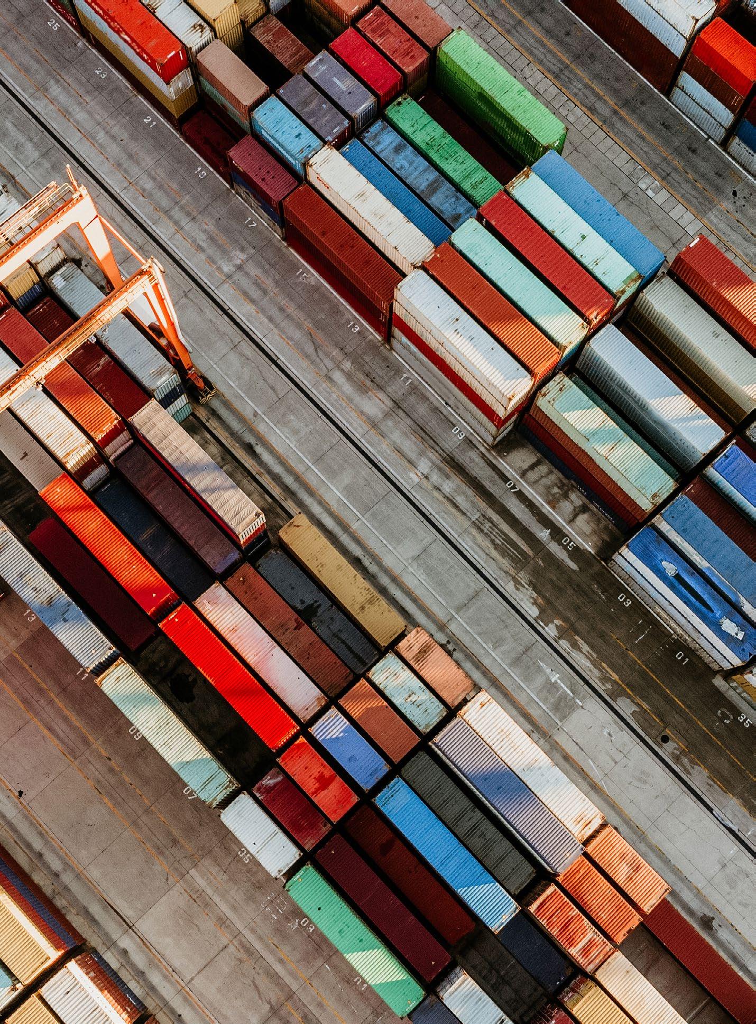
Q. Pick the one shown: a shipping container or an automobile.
shipping container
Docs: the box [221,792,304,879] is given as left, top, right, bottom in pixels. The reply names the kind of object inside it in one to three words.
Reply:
shipping container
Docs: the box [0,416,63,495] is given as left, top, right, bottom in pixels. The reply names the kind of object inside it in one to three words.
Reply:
shipping container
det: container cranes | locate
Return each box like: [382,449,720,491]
[0,143,222,423]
